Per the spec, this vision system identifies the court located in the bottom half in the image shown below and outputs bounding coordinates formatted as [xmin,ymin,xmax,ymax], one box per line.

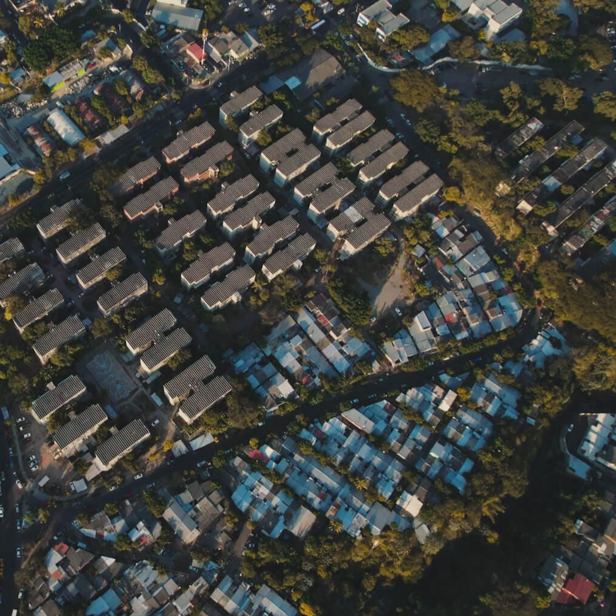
[79,352,124,397]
